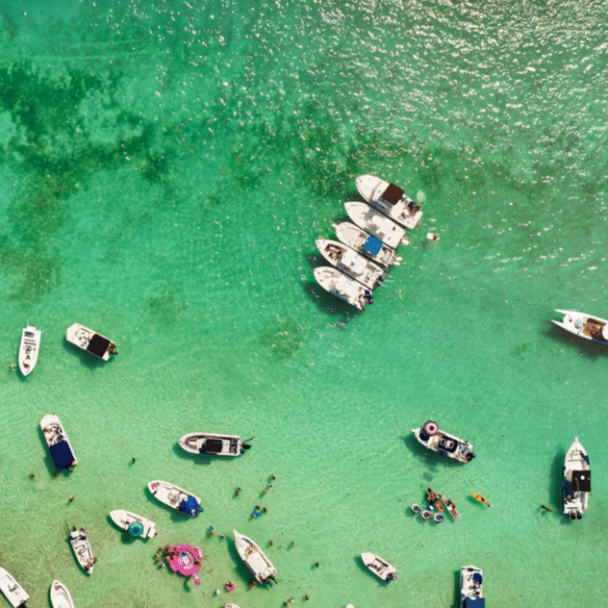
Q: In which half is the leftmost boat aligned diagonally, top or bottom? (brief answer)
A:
bottom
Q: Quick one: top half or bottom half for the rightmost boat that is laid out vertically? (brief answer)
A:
bottom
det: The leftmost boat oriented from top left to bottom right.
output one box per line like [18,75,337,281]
[0,569,29,608]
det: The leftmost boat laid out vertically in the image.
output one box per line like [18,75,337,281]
[18,323,42,376]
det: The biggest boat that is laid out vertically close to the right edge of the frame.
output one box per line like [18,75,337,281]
[559,434,591,520]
